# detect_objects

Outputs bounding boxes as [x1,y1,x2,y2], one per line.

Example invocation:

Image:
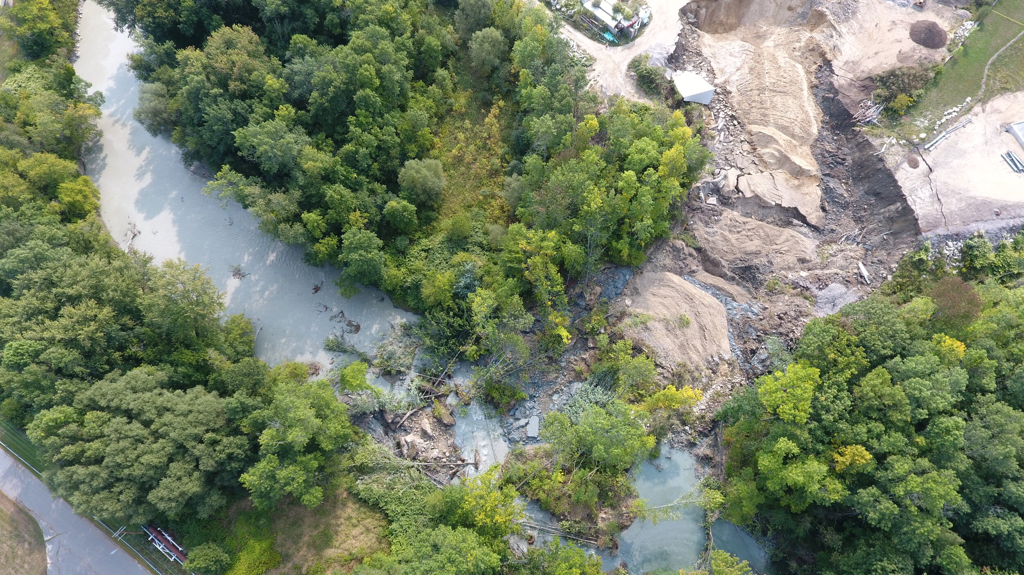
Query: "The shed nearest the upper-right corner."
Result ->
[671,68,715,104]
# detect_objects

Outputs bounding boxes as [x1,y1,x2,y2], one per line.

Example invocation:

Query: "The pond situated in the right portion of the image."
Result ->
[614,437,776,575]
